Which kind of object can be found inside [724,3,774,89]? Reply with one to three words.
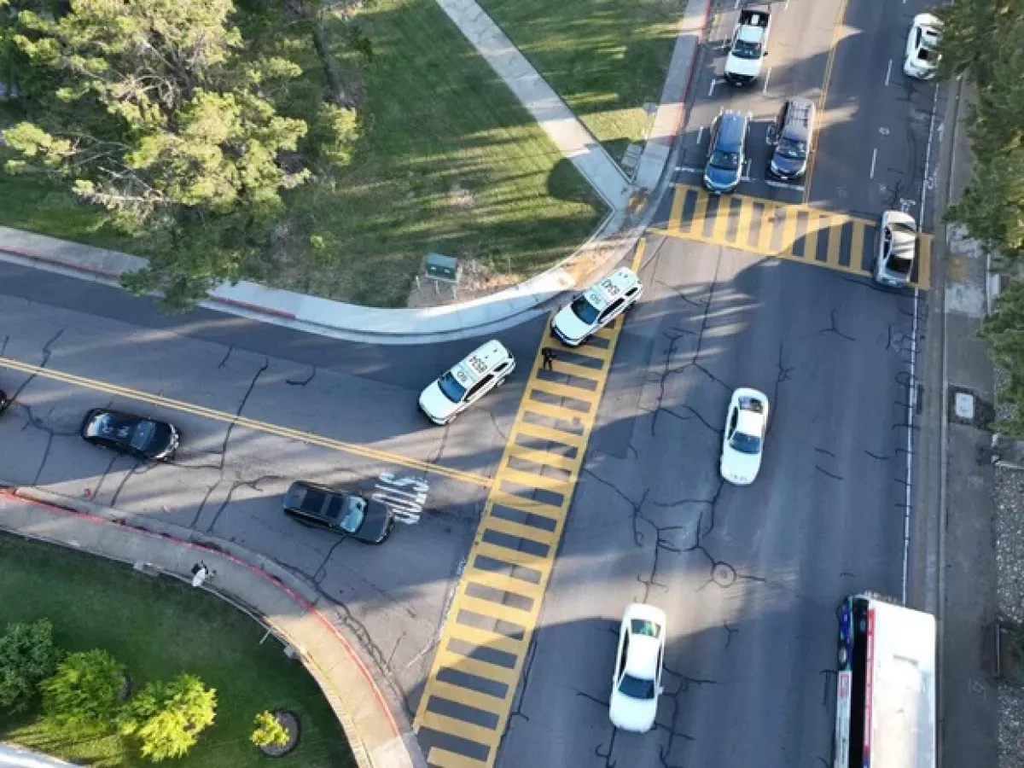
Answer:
truck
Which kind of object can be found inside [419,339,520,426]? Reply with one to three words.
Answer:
car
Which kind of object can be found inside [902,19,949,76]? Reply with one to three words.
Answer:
car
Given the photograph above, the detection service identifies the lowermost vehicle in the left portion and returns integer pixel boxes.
[279,480,396,549]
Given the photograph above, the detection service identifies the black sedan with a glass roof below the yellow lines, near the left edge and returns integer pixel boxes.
[74,411,186,464]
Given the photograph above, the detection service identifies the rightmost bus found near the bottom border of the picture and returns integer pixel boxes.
[837,593,935,768]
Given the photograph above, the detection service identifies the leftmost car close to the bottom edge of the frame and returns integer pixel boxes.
[610,604,666,733]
